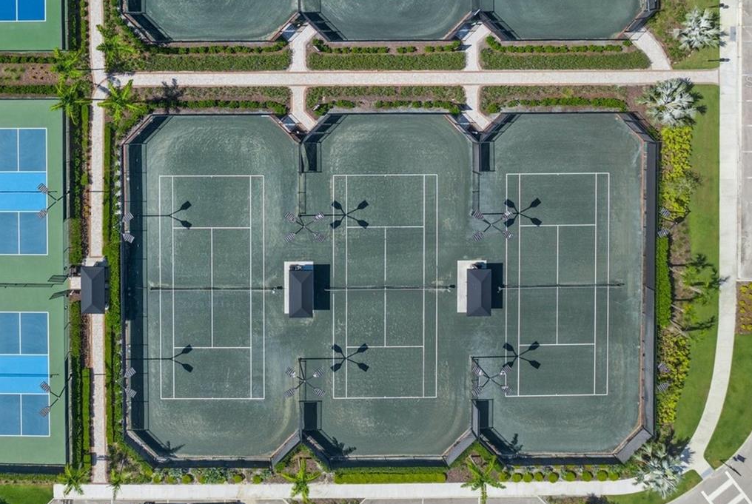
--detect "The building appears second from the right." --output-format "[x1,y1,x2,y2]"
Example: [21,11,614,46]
[285,261,312,317]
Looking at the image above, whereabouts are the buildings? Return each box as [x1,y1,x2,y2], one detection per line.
[285,261,312,317]
[457,260,491,316]
[80,264,106,313]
